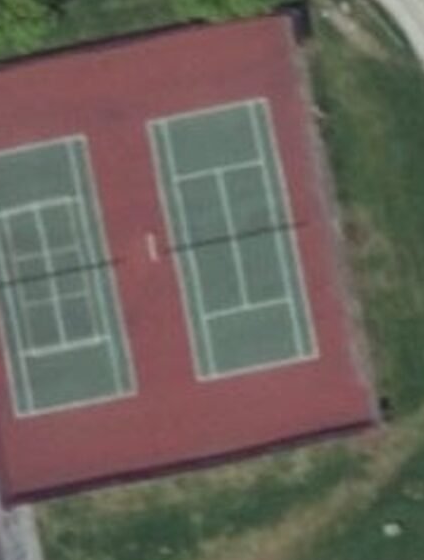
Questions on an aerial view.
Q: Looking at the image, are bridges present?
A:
No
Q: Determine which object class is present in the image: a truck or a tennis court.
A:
tennis court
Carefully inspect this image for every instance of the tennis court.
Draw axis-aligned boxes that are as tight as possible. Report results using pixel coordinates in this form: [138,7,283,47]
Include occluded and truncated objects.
[147,99,319,381]
[0,134,138,418]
